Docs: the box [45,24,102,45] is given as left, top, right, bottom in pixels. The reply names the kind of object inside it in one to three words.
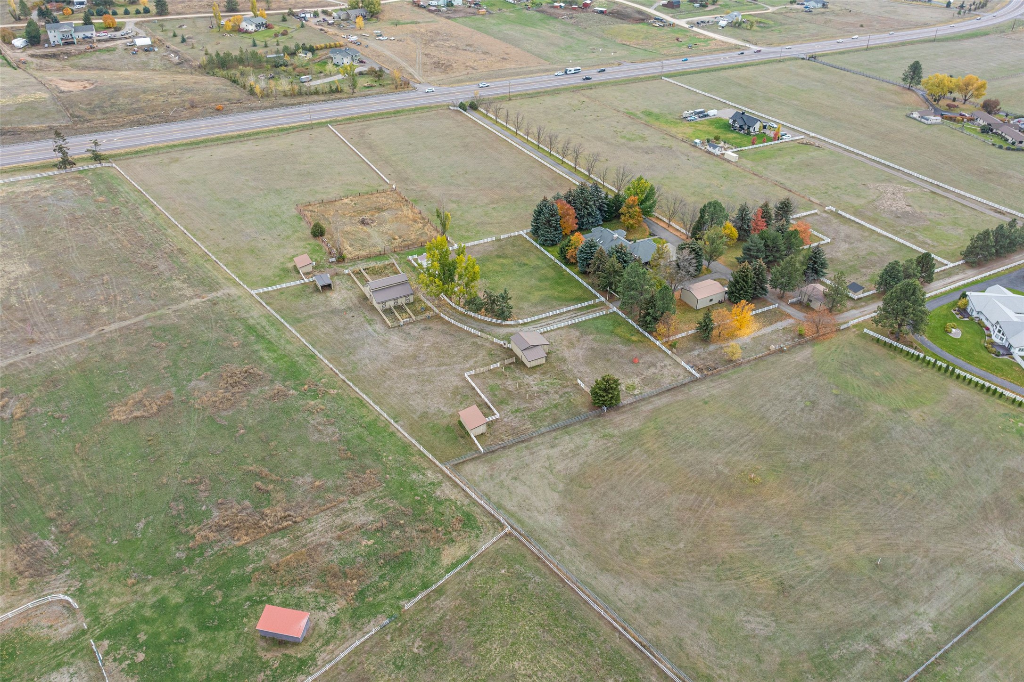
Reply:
house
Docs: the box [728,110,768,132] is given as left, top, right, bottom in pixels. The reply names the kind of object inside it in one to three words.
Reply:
house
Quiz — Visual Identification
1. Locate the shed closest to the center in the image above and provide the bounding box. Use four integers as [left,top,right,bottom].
[508,330,552,367]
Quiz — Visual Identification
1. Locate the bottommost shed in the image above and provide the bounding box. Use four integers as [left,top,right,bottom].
[255,605,309,643]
